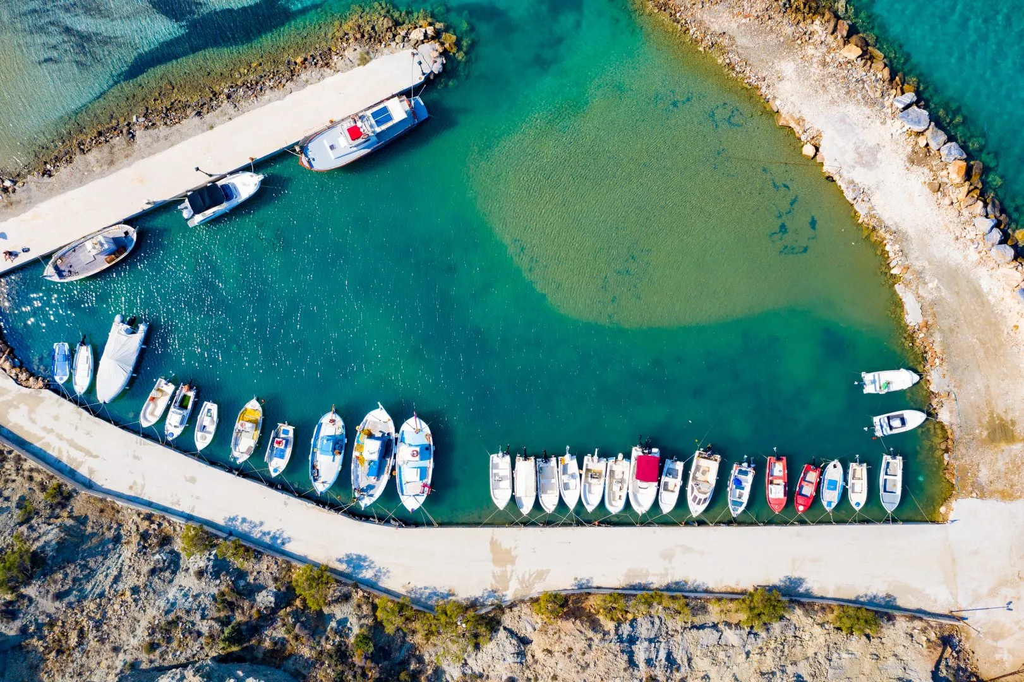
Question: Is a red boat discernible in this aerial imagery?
Yes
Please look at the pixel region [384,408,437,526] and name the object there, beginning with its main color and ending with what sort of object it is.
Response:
white boat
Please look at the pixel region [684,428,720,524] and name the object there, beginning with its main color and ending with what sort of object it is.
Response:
white boat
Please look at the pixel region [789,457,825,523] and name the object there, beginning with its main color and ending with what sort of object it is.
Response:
red boat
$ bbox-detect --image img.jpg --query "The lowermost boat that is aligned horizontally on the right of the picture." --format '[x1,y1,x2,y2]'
[865,404,938,445]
